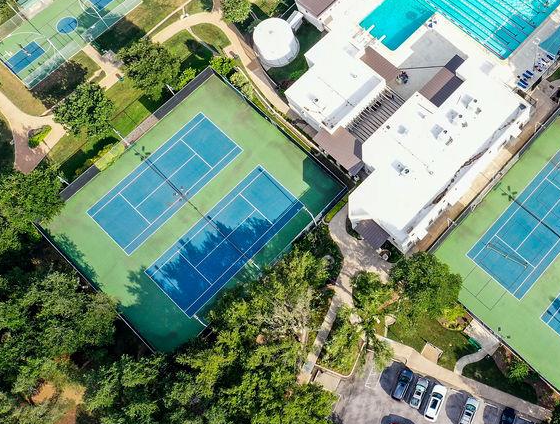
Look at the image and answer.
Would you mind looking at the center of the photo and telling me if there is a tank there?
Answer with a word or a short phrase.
No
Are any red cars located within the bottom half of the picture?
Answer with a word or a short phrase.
No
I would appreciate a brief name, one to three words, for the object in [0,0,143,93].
basketball court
